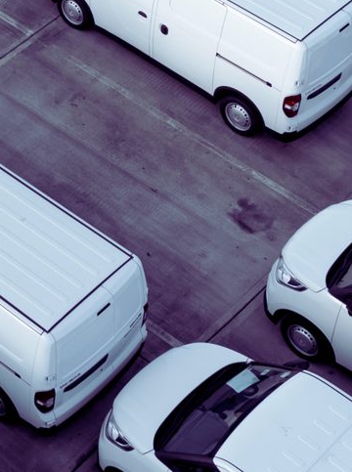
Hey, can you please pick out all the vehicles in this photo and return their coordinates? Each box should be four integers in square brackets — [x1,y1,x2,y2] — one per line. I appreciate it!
[96,344,352,472]
[265,202,352,380]
[0,165,144,438]
[52,0,352,144]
